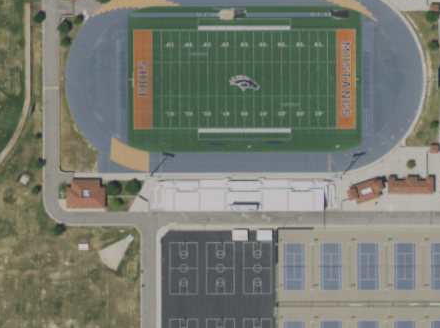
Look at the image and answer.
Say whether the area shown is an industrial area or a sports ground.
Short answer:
sports ground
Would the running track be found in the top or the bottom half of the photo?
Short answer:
top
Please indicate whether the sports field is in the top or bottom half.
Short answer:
top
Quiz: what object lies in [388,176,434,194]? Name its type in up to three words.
building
